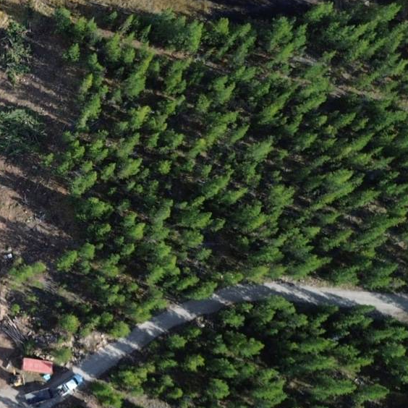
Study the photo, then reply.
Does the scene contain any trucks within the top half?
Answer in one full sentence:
No, there is no truck within the top half.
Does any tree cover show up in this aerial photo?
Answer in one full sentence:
Yes, tree cover shows up in the scene.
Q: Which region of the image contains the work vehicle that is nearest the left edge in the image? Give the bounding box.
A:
[4,358,26,387]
